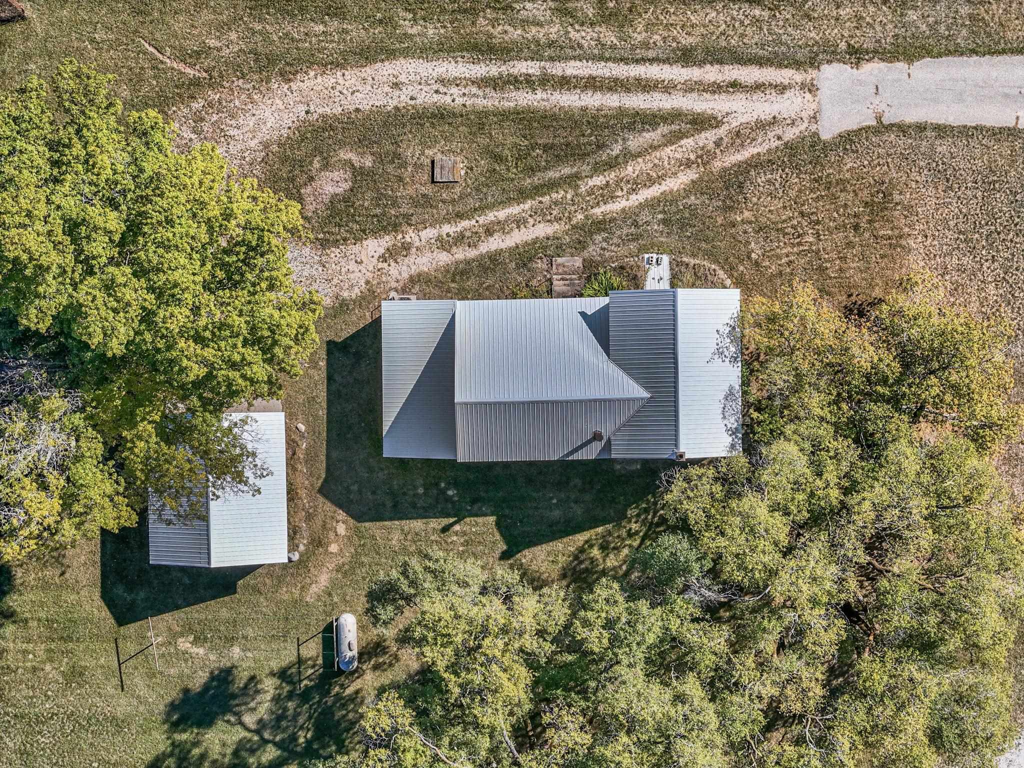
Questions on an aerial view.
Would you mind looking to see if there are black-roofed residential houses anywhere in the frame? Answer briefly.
No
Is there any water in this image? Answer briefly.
No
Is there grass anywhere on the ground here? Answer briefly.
Yes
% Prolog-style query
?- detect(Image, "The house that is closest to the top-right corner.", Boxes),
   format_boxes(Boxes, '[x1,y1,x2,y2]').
[381,286,742,461]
